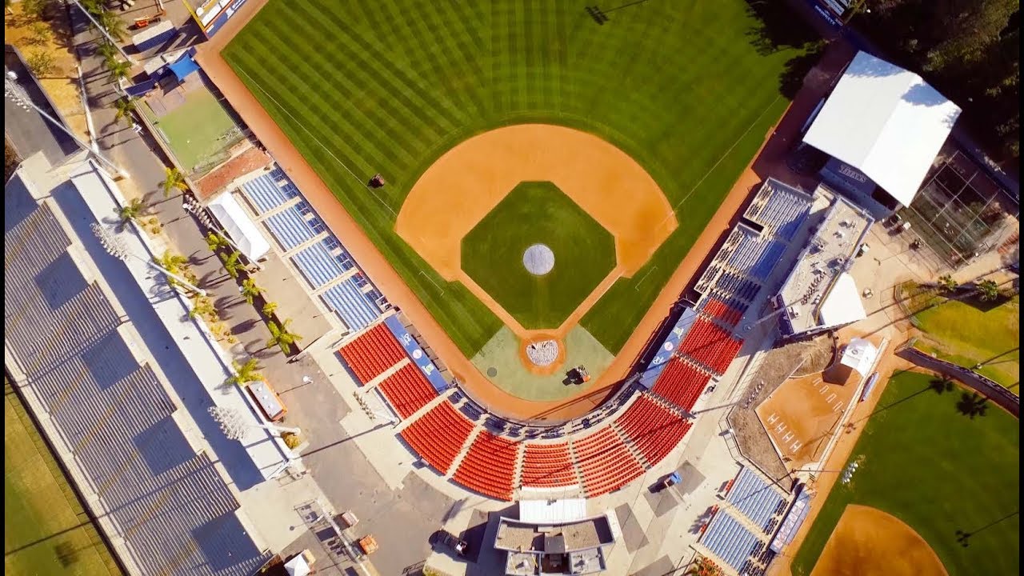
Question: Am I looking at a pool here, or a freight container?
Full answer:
It is a freight container that can be seen here.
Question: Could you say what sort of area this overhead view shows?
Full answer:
The picture captures a sports ground.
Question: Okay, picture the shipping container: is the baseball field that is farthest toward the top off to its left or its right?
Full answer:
Compared with the shipping container, the baseball field that is farthest toward the top is located further to the right.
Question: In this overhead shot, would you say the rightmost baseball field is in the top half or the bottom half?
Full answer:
The bottom half of the photo is where the rightmost baseball field is.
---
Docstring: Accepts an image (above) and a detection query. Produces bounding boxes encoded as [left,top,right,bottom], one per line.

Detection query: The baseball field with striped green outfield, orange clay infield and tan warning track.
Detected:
[199,0,839,426]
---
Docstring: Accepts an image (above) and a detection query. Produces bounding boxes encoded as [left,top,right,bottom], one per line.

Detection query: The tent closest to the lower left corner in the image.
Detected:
[284,554,316,576]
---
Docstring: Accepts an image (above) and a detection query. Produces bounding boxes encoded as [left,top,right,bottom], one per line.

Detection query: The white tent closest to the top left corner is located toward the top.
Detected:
[208,191,275,261]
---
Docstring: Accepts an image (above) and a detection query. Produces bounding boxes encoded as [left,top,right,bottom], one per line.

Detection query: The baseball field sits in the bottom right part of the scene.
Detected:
[771,340,1024,576]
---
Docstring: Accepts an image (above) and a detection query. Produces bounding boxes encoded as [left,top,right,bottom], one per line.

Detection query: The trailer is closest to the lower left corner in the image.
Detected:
[250,380,289,421]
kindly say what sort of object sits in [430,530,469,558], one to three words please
truck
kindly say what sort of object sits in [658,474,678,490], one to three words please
work vehicle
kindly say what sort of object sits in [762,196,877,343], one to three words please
building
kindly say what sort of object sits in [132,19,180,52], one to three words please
shipping container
